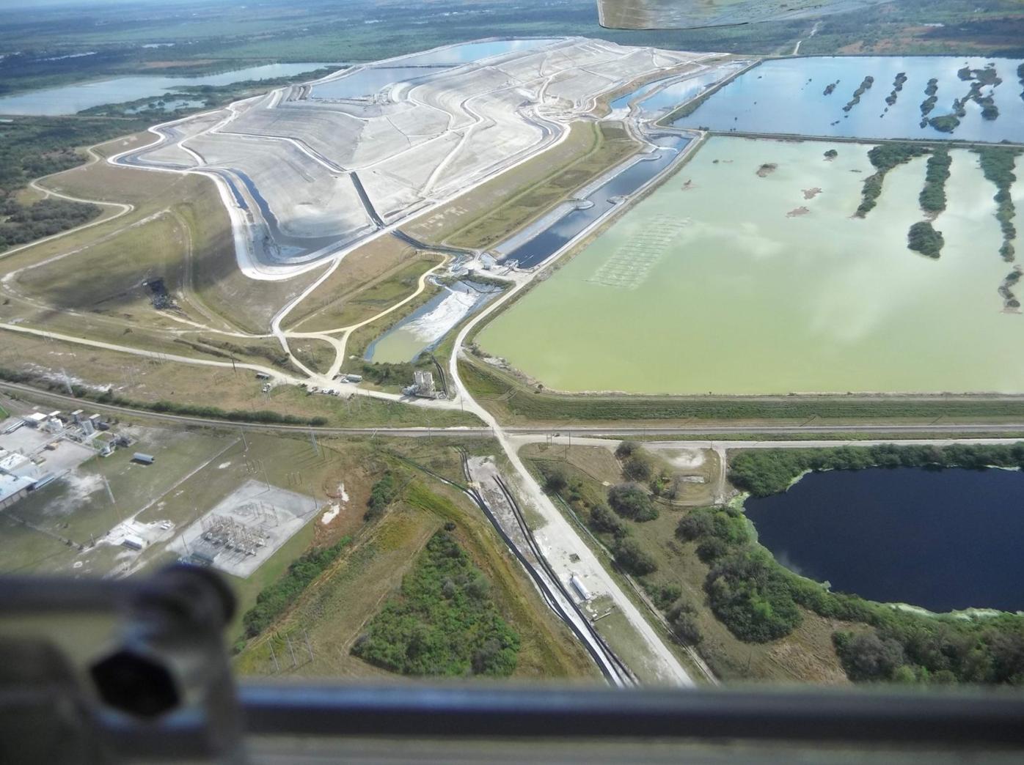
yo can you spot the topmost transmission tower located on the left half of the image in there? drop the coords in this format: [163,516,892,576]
[60,368,75,397]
